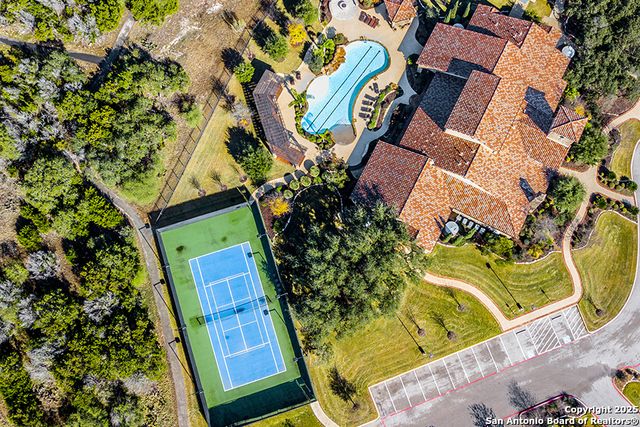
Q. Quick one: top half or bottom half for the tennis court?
bottom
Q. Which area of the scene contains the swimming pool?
top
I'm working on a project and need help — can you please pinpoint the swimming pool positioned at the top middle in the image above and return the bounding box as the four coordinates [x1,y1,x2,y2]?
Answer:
[300,38,391,144]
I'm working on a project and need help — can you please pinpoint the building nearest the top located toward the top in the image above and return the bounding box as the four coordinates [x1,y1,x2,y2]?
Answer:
[383,0,416,28]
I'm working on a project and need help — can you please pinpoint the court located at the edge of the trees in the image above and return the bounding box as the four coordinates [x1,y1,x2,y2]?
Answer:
[158,203,314,427]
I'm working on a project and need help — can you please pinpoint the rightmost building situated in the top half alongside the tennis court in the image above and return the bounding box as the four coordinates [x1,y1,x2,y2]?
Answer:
[345,8,588,252]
